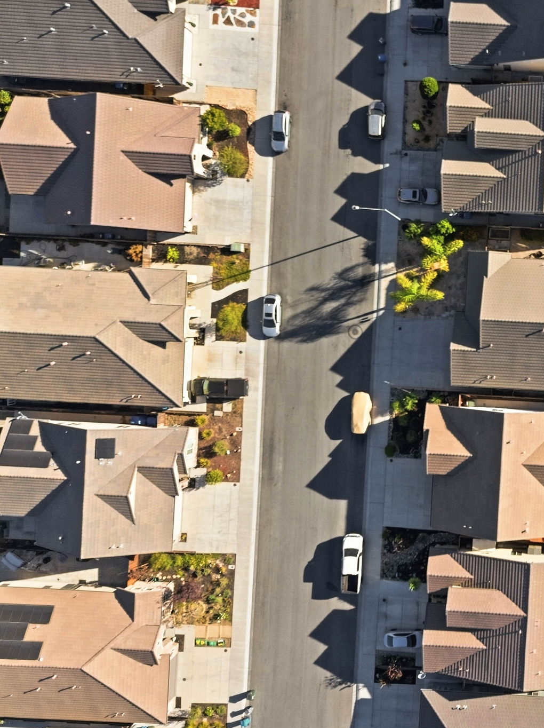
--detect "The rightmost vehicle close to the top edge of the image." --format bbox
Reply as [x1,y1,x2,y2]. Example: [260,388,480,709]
[410,13,449,36]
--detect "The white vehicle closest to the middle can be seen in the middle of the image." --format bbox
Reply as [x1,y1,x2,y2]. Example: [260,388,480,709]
[261,295,284,337]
